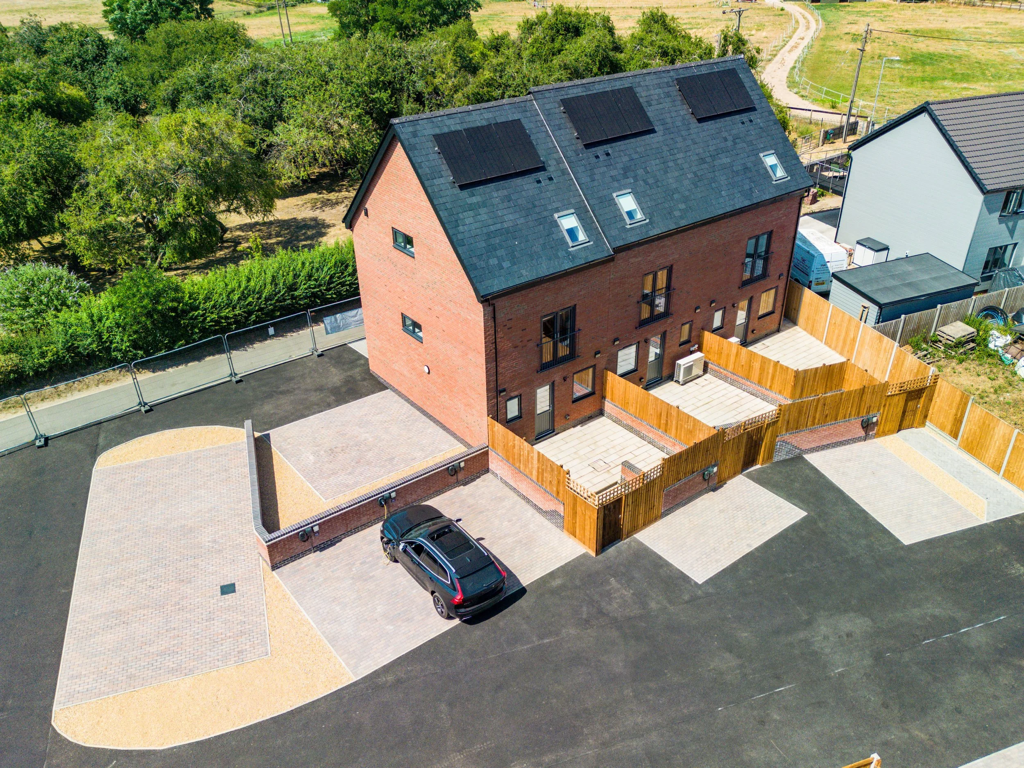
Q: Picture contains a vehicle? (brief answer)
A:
Yes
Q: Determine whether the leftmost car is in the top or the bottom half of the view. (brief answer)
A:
bottom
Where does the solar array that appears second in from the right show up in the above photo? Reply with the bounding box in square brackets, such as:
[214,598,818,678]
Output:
[564,94,658,152]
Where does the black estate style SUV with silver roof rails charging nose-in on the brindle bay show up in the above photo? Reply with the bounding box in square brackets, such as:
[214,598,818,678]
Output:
[376,497,513,623]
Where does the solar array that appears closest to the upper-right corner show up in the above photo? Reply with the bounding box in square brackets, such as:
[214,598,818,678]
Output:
[679,75,758,126]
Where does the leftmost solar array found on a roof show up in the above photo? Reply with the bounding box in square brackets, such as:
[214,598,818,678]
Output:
[435,123,544,188]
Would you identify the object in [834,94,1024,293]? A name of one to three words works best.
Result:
house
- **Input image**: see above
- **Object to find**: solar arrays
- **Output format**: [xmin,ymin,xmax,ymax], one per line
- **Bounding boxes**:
[564,94,658,152]
[435,123,544,188]
[679,75,758,126]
